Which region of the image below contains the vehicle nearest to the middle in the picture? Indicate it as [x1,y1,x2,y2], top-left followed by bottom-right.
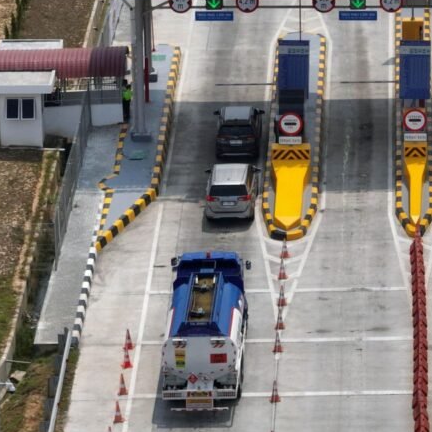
[203,159,261,219]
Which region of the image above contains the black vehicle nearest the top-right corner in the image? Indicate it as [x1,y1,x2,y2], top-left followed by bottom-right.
[212,104,267,159]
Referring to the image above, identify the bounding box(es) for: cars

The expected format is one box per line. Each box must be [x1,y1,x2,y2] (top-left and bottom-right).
[203,159,261,219]
[212,104,267,159]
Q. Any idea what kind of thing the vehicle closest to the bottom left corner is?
truck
